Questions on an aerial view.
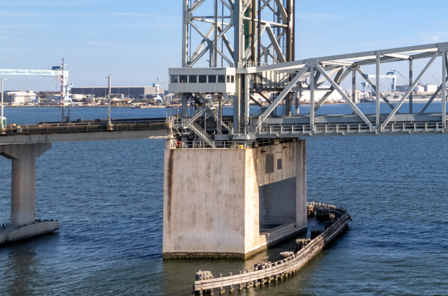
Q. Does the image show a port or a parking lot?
port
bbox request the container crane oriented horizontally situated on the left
[0,67,69,94]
